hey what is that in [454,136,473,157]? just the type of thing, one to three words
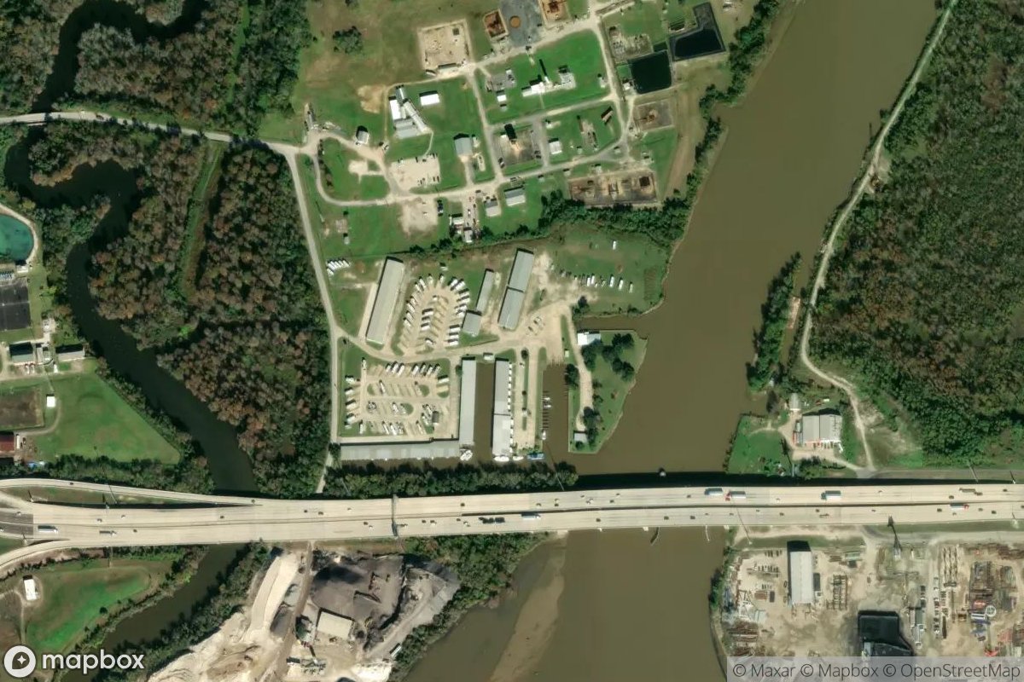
building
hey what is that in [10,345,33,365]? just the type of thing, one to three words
house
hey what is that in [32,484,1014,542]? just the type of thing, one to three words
bridge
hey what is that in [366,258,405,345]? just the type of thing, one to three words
shed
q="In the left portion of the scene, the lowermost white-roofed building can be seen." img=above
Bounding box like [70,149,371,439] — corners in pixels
[316,611,352,641]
